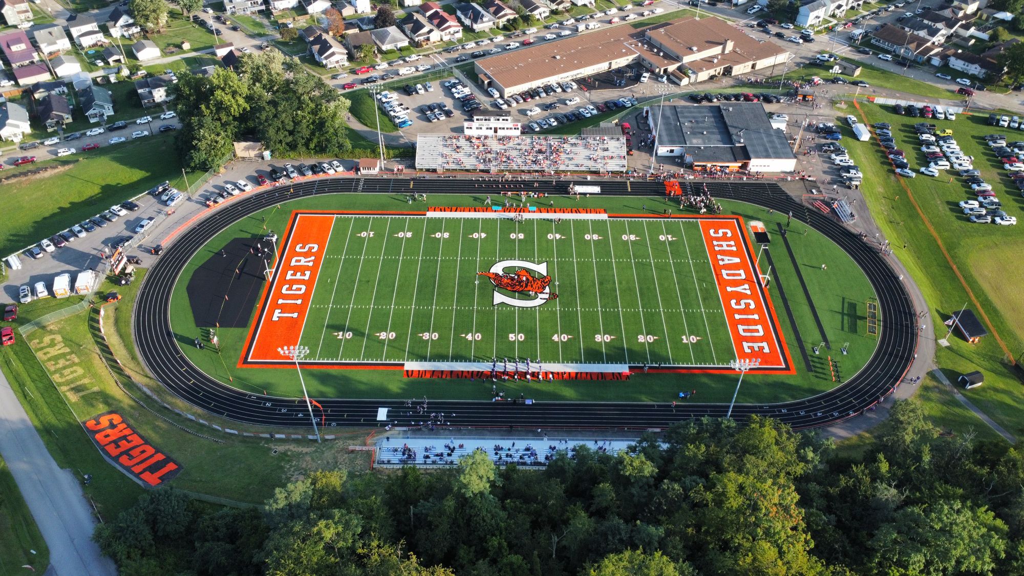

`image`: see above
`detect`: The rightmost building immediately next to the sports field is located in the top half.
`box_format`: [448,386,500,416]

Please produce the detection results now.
[649,101,797,172]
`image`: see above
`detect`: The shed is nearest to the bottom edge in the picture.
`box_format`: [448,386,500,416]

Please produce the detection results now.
[955,370,988,394]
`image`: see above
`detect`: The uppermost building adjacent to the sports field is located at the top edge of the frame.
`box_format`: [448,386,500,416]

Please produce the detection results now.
[473,11,791,97]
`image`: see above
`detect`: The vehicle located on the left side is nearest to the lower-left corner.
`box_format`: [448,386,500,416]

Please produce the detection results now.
[1,326,16,347]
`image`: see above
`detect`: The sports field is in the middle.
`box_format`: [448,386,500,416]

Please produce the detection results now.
[294,215,738,366]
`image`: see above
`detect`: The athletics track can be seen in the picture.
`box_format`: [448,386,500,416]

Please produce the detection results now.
[138,177,913,434]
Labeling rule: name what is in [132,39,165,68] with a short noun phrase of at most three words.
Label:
building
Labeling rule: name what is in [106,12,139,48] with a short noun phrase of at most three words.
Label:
house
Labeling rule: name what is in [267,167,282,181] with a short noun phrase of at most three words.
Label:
vehicle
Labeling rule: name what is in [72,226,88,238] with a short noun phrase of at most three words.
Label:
vehicle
